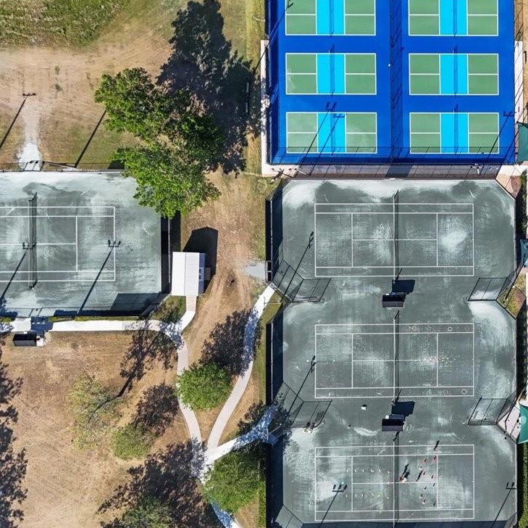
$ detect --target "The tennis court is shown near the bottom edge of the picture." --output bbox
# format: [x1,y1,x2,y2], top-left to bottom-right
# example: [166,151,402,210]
[315,440,475,528]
